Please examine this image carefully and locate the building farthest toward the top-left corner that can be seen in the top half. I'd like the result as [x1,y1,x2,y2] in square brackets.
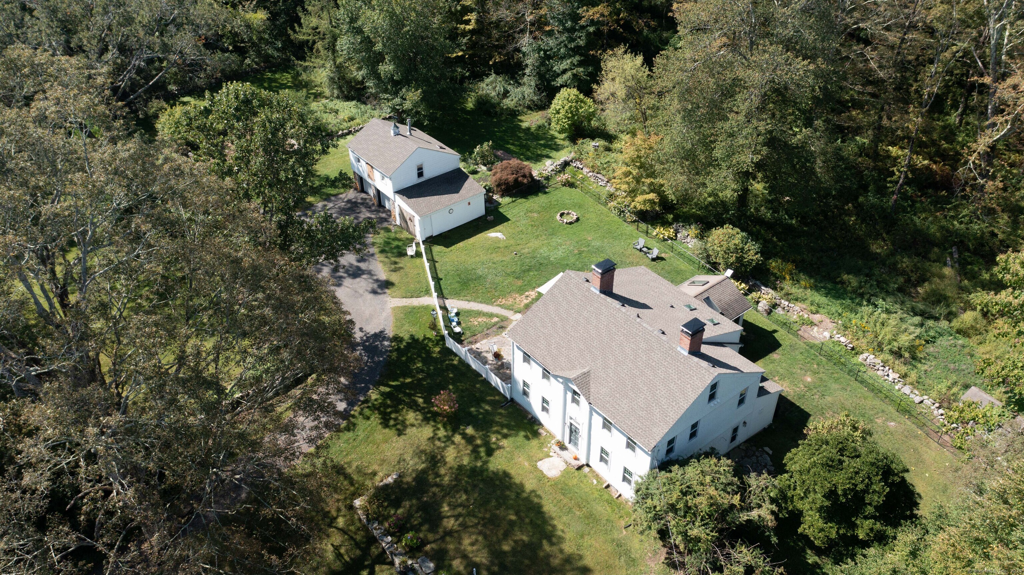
[346,116,488,243]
